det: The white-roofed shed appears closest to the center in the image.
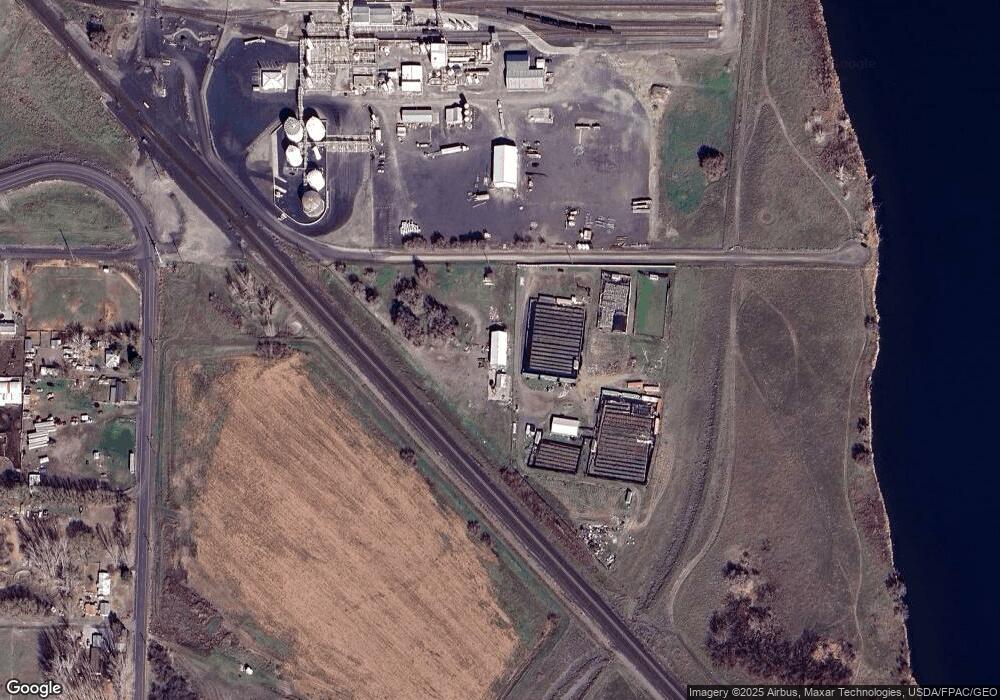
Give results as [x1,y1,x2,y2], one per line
[490,331,509,368]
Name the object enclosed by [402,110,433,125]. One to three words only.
building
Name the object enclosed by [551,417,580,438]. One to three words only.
barn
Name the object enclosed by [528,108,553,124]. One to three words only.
shed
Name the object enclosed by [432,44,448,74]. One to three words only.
building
